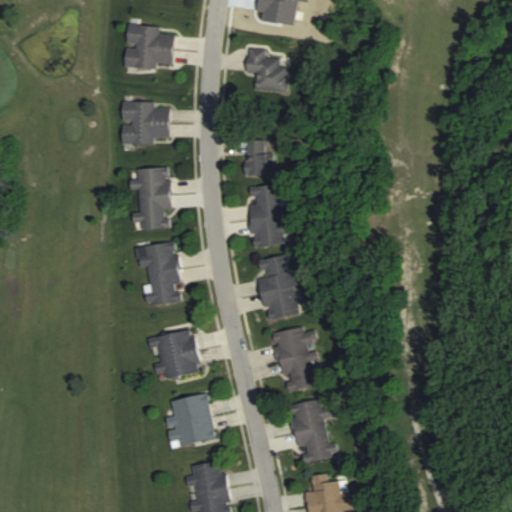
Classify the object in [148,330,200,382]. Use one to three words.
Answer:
house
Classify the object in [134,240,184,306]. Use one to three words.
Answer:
house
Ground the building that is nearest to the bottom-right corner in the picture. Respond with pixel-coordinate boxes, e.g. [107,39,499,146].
[304,474,353,512]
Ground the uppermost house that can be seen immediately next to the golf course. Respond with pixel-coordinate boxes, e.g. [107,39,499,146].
[124,18,176,72]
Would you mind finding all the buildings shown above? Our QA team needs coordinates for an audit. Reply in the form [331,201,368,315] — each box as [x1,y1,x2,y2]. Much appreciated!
[257,254,304,317]
[247,186,288,248]
[120,96,172,151]
[272,328,320,392]
[166,394,215,450]
[148,330,200,382]
[290,398,338,460]
[185,461,230,512]
[130,166,173,230]
[304,474,353,512]
[240,139,276,178]
[124,18,176,72]
[244,48,290,94]
[252,0,304,26]
[134,240,184,306]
